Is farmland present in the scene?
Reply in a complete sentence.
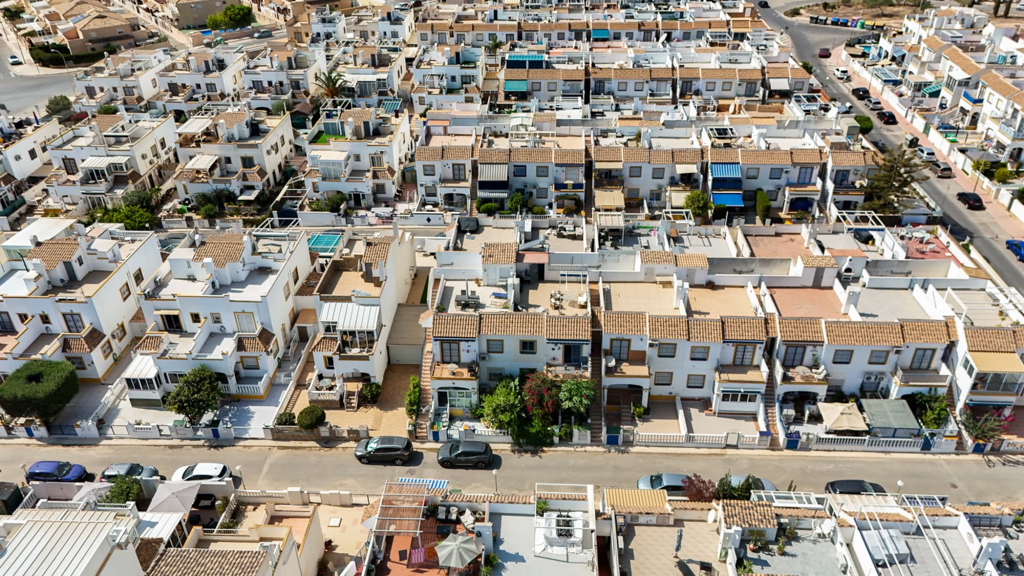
No, the picture contains no farmland.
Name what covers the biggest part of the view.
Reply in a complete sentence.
For the most part, this view shows buildings.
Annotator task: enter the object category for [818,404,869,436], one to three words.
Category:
umbrella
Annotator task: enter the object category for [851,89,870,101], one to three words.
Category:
vehicle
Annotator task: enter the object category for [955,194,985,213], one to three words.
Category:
car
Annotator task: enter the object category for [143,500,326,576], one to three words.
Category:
house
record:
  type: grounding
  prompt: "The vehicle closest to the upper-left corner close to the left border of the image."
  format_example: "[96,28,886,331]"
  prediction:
[7,54,22,66]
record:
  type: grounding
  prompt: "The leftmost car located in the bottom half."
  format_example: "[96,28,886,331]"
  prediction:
[26,460,90,481]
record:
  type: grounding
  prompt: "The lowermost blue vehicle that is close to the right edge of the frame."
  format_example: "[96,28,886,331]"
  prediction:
[1002,240,1024,264]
